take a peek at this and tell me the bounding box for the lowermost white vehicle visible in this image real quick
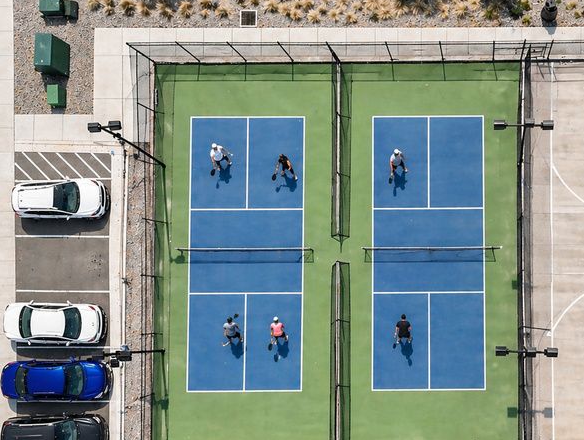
[4,300,109,347]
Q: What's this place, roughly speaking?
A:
sports ground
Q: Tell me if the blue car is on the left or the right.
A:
left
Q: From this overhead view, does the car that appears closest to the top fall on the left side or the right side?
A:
left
